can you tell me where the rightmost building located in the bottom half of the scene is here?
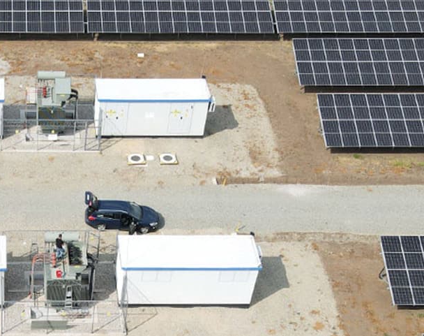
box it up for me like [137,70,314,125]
[118,233,263,305]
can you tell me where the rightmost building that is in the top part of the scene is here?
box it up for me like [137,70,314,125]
[97,77,211,136]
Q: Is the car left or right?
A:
left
